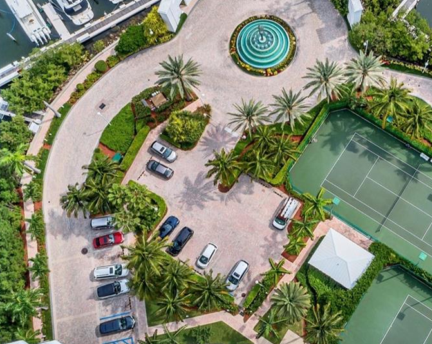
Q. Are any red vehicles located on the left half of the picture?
Yes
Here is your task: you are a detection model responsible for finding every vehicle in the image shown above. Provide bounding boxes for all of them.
[96,281,129,299]
[168,226,195,255]
[274,198,298,229]
[99,315,135,336]
[149,141,179,163]
[226,260,250,292]
[145,160,175,179]
[92,232,125,249]
[94,264,127,280]
[156,213,183,242]
[196,241,218,271]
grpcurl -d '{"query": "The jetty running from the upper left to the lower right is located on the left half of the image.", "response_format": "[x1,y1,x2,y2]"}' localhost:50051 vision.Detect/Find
[36,0,71,40]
